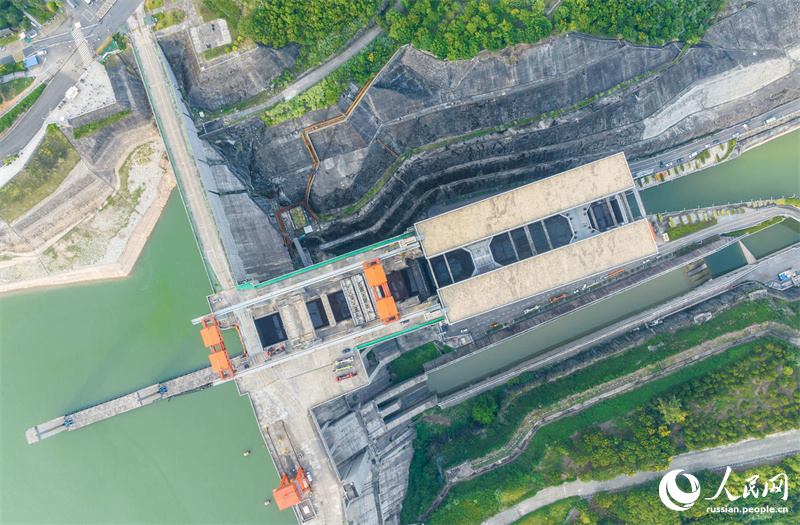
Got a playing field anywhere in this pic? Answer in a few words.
No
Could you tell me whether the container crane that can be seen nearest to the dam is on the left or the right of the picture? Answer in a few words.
left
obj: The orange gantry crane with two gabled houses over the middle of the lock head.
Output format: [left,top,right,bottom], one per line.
[359,257,398,327]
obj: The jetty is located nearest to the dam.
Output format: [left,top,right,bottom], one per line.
[156,366,211,399]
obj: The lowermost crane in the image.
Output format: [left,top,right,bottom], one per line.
[273,452,315,512]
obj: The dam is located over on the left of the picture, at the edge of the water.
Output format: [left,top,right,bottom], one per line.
[130,22,299,295]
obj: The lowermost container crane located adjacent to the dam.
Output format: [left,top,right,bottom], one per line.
[198,312,247,386]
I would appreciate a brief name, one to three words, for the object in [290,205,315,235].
building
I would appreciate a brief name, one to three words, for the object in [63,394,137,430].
pier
